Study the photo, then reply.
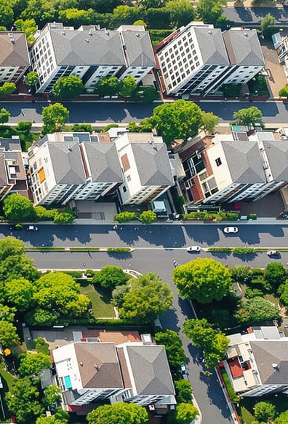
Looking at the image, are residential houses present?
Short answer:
Yes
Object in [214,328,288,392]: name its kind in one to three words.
house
